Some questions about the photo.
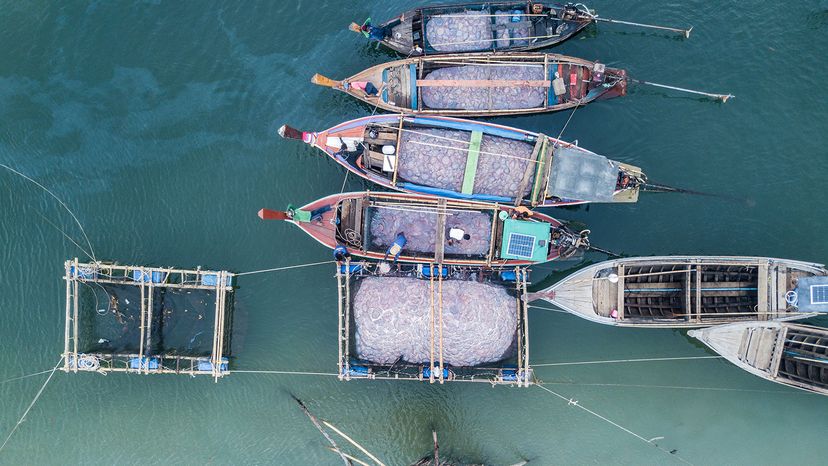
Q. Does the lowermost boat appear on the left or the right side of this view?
right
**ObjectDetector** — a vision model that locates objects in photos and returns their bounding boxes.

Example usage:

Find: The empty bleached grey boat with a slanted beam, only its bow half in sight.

[677,320,828,396]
